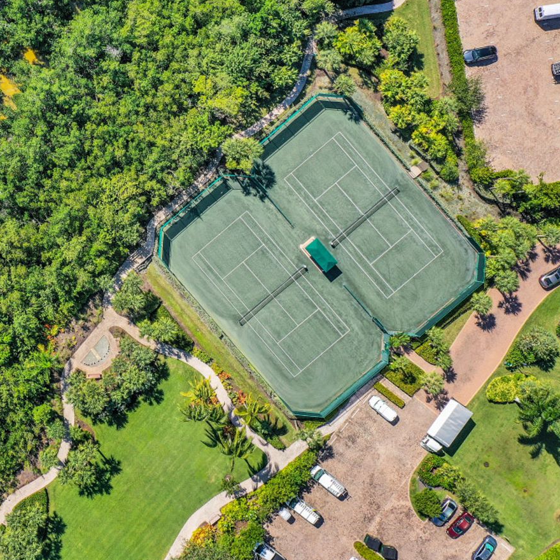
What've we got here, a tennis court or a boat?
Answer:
tennis court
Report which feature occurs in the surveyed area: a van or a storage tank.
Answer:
van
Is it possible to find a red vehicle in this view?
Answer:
Yes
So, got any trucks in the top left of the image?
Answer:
No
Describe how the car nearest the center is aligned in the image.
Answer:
at an angle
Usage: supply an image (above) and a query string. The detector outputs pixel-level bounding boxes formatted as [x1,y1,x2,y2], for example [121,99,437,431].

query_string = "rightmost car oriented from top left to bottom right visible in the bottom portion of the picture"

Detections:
[368,396,399,423]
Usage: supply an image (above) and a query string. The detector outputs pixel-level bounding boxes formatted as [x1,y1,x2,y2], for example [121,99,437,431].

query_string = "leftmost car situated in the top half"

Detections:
[463,46,498,62]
